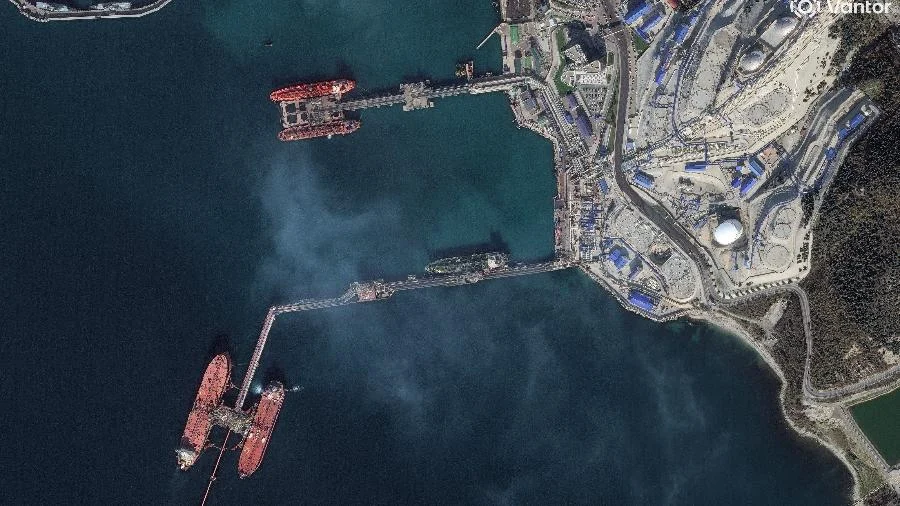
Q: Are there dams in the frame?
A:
Yes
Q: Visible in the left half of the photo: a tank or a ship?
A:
ship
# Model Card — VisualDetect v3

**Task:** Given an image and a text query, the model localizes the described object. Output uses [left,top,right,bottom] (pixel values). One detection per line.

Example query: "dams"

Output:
[837,406,893,474]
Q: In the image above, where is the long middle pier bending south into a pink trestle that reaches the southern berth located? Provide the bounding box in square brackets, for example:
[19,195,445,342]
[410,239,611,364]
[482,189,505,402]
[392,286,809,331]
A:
[203,260,580,506]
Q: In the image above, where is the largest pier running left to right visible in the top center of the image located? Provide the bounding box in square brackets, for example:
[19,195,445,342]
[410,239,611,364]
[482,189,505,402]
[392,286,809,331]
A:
[279,72,535,130]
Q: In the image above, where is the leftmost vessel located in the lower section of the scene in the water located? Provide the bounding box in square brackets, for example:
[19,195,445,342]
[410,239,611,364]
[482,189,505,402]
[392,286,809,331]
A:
[177,353,227,471]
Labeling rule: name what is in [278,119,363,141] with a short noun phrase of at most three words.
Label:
ship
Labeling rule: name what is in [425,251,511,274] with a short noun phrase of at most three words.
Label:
ship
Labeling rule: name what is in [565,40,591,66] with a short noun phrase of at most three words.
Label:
building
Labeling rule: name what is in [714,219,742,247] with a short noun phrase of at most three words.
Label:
storage tank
